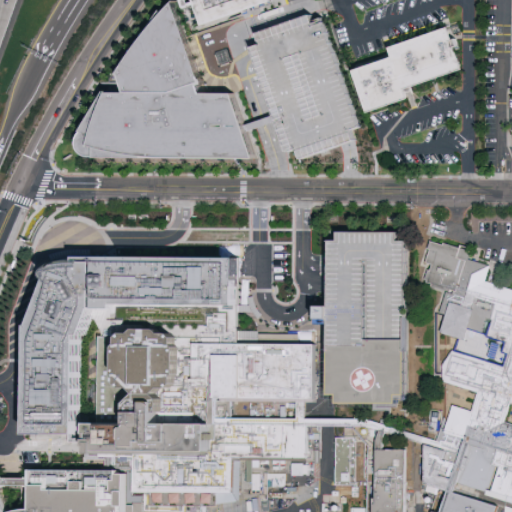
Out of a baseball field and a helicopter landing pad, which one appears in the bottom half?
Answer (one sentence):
Looking in the bottom half, you will find a helicopter landing pad.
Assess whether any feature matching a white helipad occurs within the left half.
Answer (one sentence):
No, within the left half there is no white helipad.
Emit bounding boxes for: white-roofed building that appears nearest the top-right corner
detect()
[350,27,462,112]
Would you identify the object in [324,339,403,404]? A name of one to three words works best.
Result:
helipad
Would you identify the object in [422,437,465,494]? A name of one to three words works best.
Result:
building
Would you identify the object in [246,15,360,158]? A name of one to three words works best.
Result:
building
